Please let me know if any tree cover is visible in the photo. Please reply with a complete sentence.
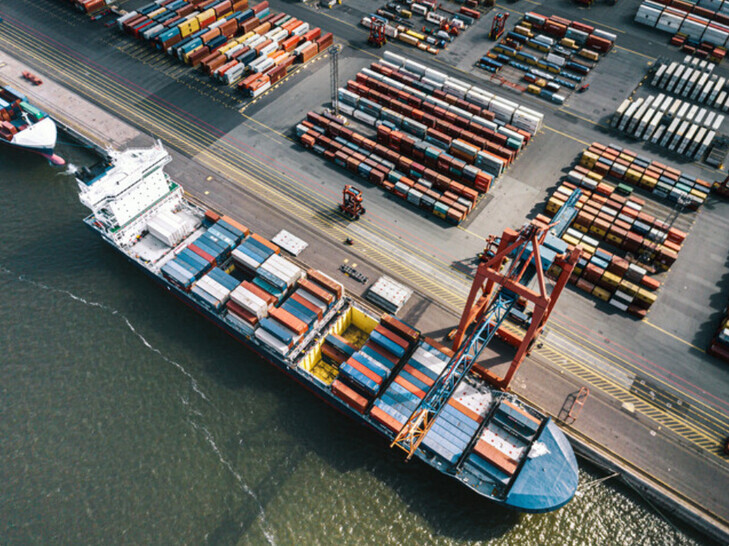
No, there's no tree cover in this view.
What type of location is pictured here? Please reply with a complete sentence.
The area seen from above is a port.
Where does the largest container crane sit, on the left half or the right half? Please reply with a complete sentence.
The largest container crane appears in the right half of the scene.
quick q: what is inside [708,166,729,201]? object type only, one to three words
work vehicle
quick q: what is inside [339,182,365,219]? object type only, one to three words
work vehicle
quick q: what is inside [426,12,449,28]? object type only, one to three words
vehicle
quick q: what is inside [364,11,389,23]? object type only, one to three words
vehicle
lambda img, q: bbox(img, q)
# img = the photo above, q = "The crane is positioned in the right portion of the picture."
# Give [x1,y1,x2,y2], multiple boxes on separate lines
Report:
[382,181,590,464]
